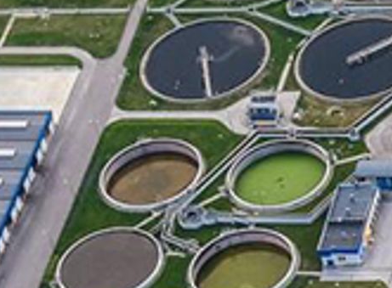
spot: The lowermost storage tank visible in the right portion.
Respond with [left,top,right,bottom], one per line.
[188,228,299,288]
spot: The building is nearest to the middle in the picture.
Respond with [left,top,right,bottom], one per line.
[247,93,283,122]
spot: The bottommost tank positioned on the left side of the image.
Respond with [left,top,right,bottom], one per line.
[56,225,165,288]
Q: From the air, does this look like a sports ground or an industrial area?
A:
industrial area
